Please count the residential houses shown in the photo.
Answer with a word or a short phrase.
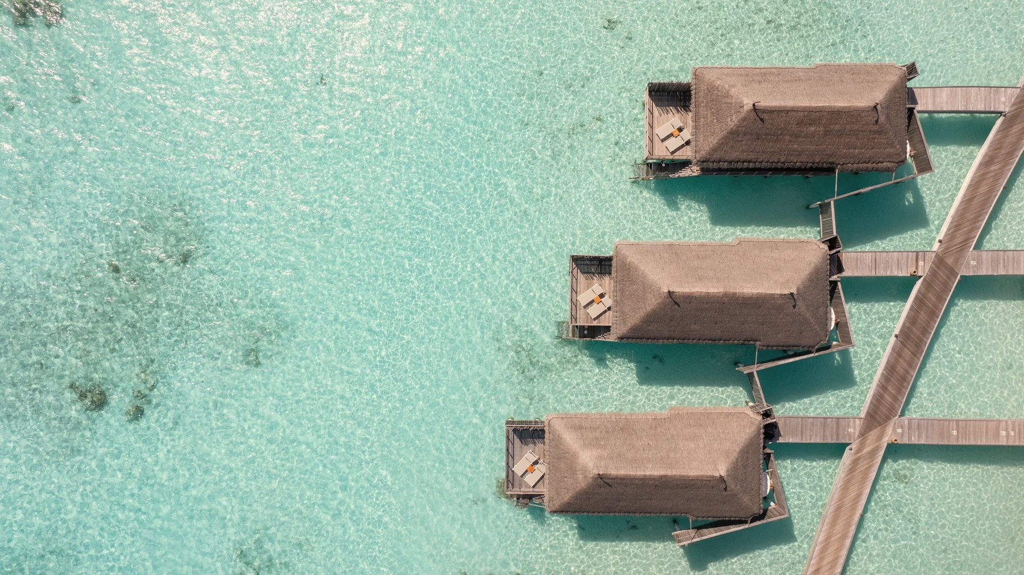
3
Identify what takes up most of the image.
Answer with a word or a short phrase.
water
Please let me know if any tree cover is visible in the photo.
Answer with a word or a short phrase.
No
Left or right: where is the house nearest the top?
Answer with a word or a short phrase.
right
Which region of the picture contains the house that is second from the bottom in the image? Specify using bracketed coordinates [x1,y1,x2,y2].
[559,235,831,349]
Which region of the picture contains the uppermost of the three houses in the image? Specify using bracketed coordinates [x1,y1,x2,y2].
[632,62,910,179]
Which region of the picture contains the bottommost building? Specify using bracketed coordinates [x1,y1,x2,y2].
[498,406,764,521]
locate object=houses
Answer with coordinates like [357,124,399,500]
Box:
[498,406,764,521]
[559,235,831,349]
[632,62,910,179]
